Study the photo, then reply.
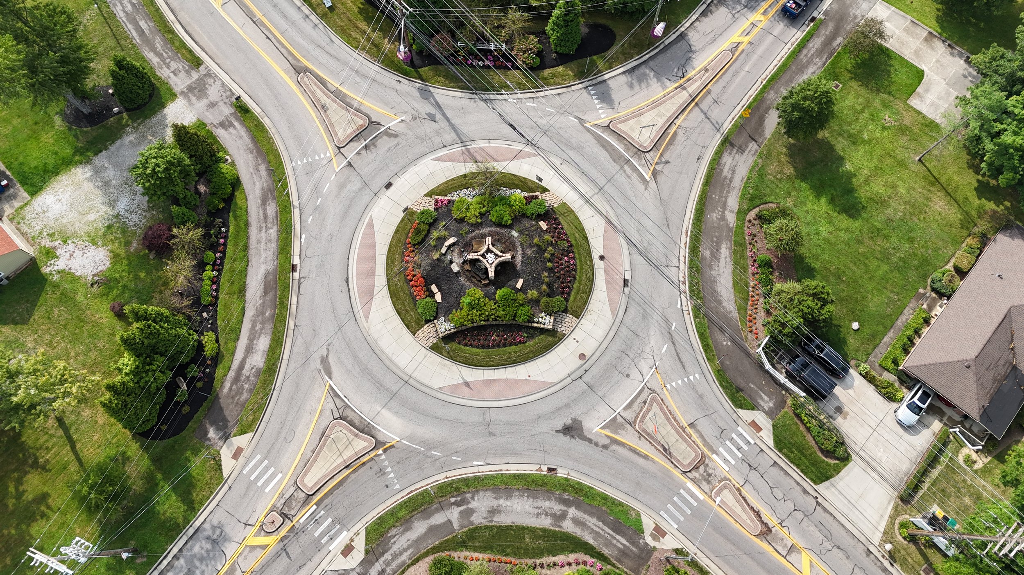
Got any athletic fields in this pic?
No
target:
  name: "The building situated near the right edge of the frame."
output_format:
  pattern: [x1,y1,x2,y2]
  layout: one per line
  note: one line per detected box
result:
[893,226,1024,440]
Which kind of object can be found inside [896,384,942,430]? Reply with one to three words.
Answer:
car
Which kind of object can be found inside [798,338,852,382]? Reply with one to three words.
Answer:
car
